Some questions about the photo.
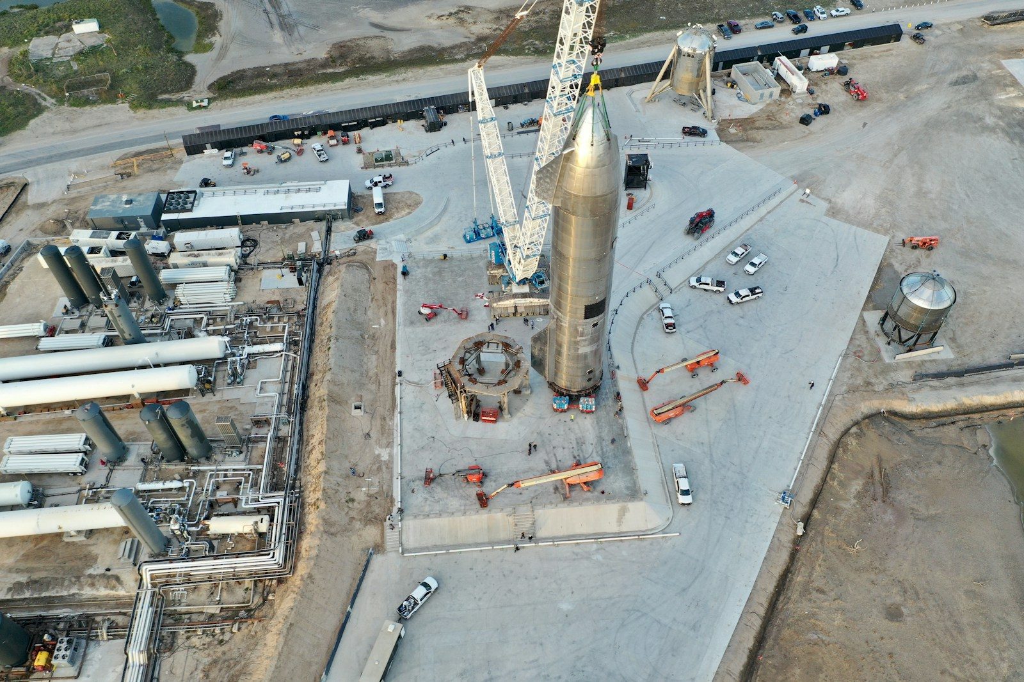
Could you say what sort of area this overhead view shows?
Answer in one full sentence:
This looks like an industrial area.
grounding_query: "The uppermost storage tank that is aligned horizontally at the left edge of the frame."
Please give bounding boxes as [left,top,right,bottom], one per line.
[0,338,233,383]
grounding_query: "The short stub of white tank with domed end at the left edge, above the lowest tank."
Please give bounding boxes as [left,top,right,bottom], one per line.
[0,480,43,511]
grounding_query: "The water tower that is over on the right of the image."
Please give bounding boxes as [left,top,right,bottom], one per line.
[881,274,960,358]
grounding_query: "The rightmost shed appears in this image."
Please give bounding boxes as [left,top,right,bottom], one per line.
[751,18,905,64]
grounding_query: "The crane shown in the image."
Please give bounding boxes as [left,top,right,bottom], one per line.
[471,0,604,307]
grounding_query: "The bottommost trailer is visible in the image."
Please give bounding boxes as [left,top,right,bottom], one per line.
[357,617,402,682]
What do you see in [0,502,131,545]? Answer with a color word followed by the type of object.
white storage tank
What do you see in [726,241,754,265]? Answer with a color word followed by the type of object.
white truck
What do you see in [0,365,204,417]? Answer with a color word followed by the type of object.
white storage tank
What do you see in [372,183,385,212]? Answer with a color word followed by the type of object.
white vehicle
